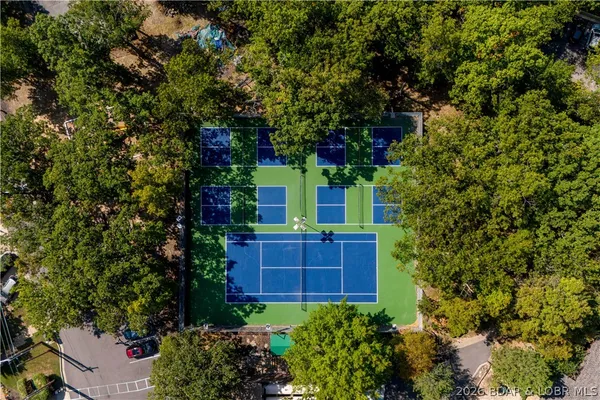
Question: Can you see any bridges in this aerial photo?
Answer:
No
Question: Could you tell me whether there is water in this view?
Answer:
No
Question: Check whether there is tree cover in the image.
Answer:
Yes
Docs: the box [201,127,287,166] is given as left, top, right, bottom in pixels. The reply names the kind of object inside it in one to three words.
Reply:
sports court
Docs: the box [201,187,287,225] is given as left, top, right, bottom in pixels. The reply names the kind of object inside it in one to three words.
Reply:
sports court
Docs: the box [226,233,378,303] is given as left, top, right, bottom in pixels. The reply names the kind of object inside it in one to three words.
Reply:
tennis court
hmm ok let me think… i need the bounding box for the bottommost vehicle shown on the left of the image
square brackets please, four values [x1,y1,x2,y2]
[124,340,156,358]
